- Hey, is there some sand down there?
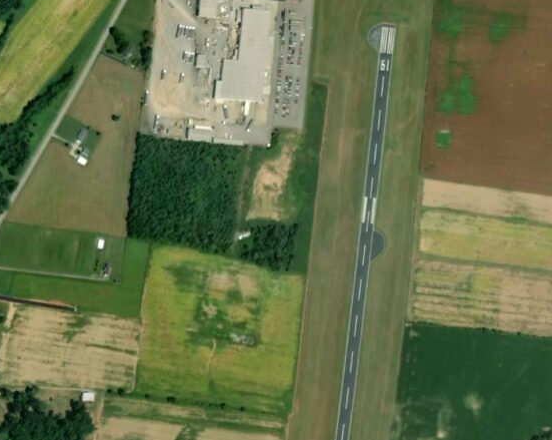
No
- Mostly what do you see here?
farmland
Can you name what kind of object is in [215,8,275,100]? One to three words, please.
building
